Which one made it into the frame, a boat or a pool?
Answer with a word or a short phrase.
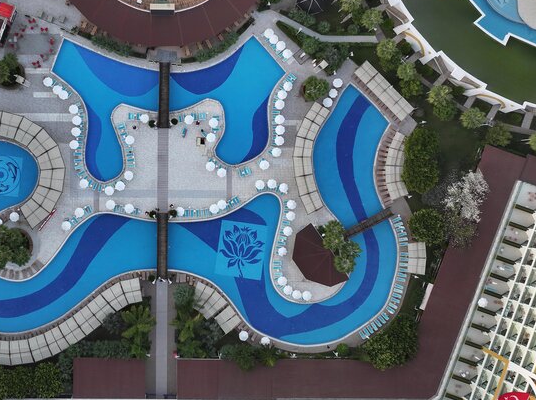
pool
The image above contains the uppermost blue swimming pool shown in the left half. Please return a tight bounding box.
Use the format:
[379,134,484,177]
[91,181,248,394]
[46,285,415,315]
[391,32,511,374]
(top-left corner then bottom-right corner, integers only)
[51,34,287,183]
